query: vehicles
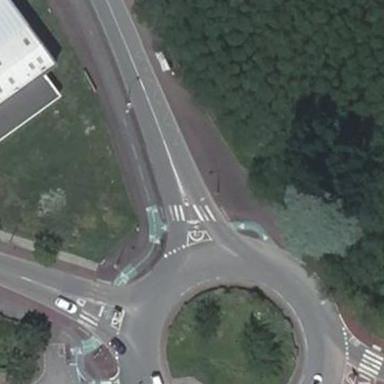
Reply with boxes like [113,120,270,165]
[112,336,126,355]
[312,374,323,384]
[55,296,78,313]
[152,373,164,384]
